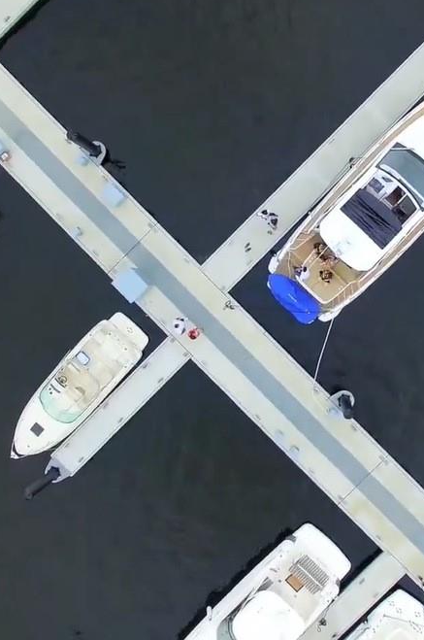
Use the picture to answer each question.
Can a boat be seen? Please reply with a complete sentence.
Yes, there's a boat here.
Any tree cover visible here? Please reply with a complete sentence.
No, the picture contains no tree cover.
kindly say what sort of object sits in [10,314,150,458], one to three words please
boat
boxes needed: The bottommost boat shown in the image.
[343,589,424,640]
